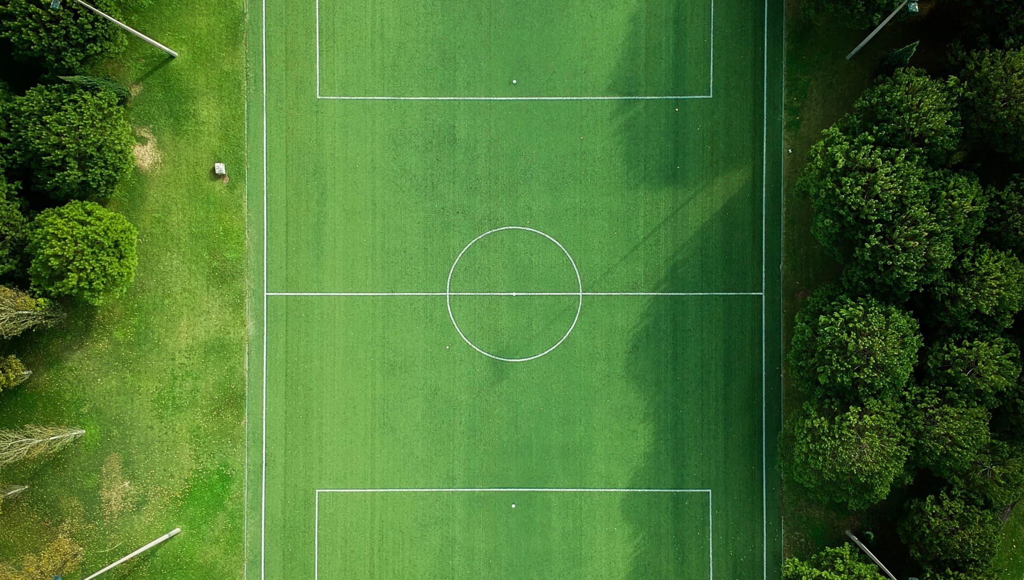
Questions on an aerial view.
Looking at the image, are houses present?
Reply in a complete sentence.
No, there's no house here.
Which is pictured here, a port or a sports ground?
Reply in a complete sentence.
What you see here is a sports ground.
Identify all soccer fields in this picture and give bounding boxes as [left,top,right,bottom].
[247,0,783,580]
